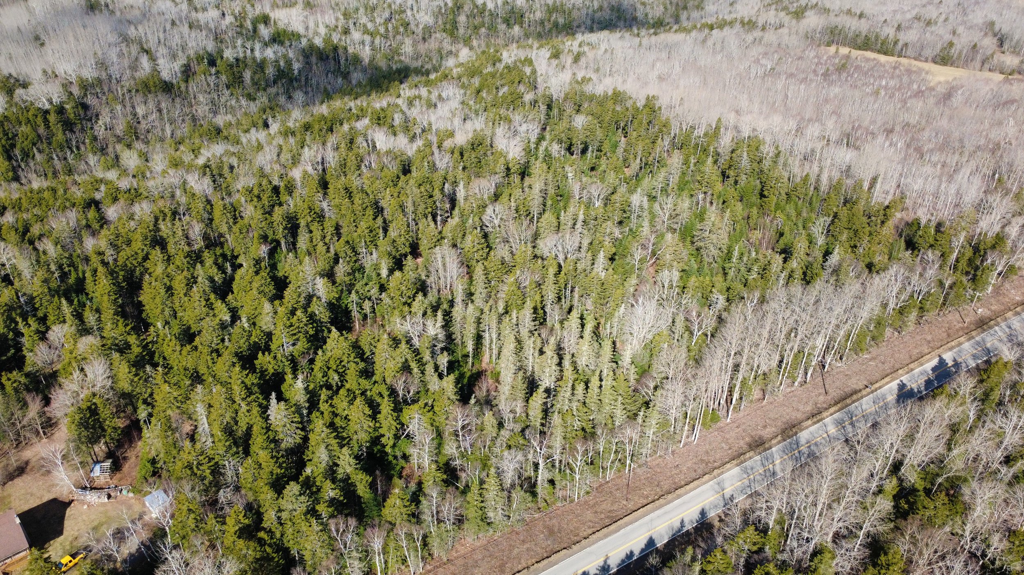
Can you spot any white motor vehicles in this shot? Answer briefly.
No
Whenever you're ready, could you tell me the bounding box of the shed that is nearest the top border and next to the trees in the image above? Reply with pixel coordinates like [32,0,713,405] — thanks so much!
[87,459,119,481]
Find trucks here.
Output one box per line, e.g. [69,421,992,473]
[49,550,86,574]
